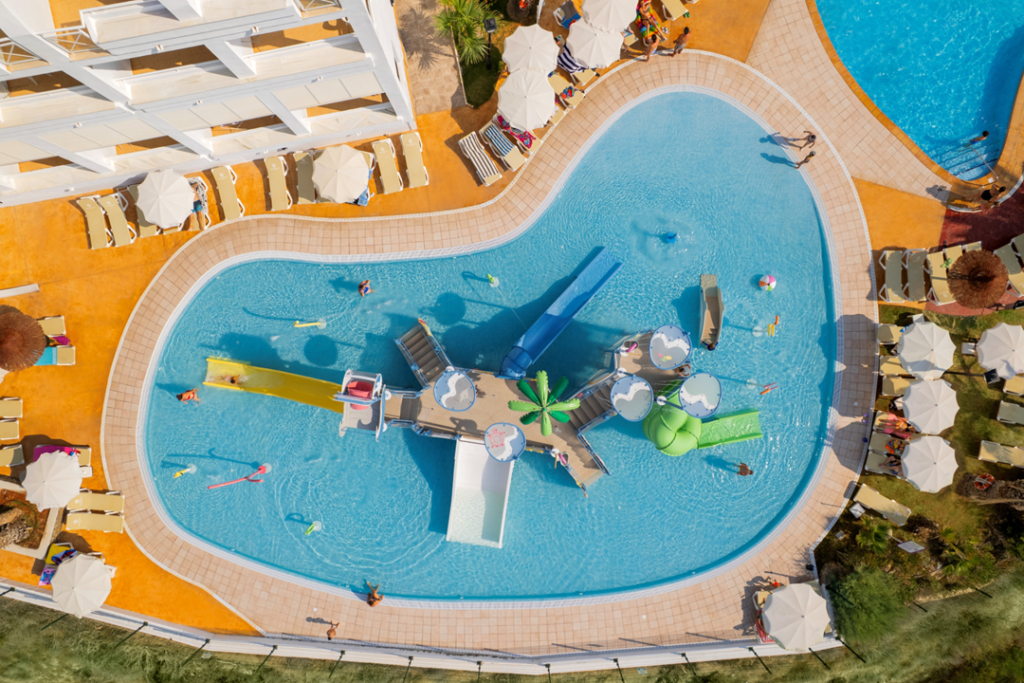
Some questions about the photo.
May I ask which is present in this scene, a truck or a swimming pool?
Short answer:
swimming pool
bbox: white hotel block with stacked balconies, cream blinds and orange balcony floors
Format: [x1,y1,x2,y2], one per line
[0,0,415,205]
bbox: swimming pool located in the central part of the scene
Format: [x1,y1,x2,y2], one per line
[144,92,837,601]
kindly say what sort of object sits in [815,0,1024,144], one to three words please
swimming pool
